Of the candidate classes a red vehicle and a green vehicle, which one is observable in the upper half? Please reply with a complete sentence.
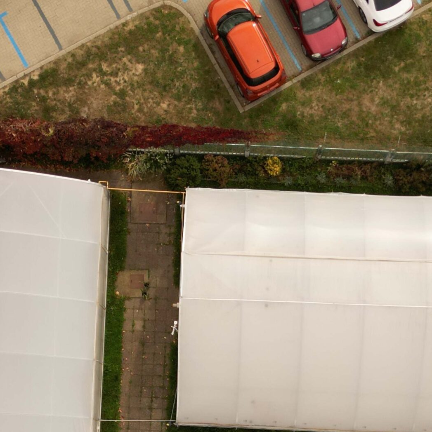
There is a red vehicle in the upper half.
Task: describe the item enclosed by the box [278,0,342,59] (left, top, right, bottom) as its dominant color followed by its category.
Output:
red car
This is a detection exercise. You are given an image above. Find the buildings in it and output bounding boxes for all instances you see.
[175,188,432,432]
[0,167,111,432]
